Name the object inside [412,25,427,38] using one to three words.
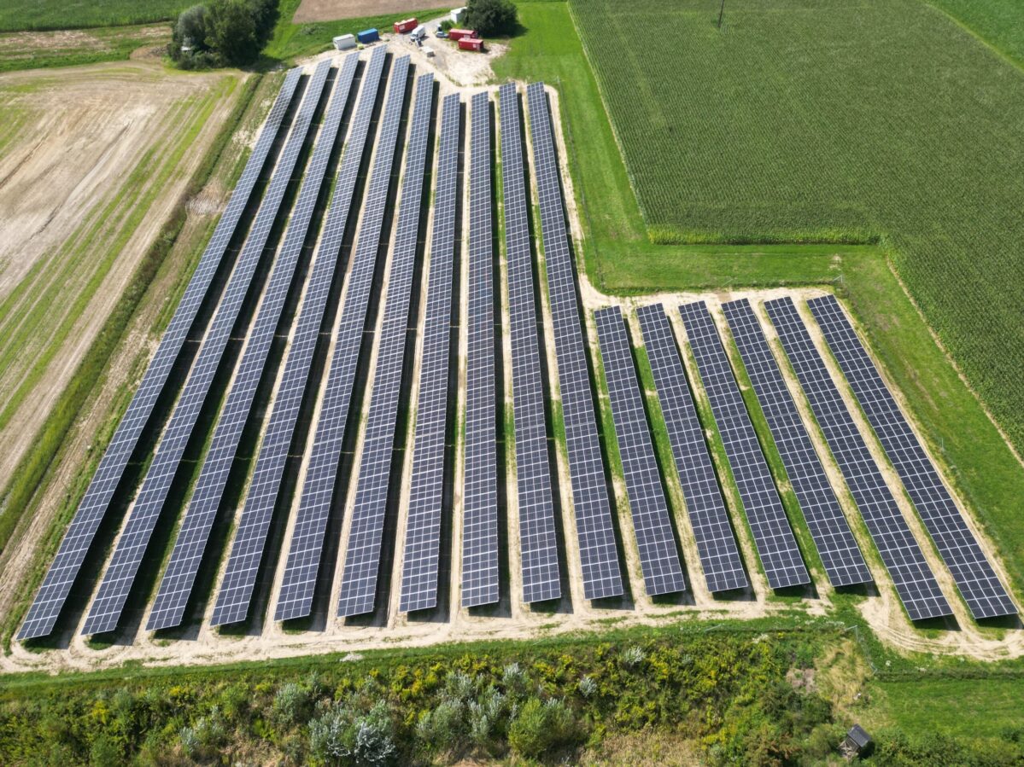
vehicle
